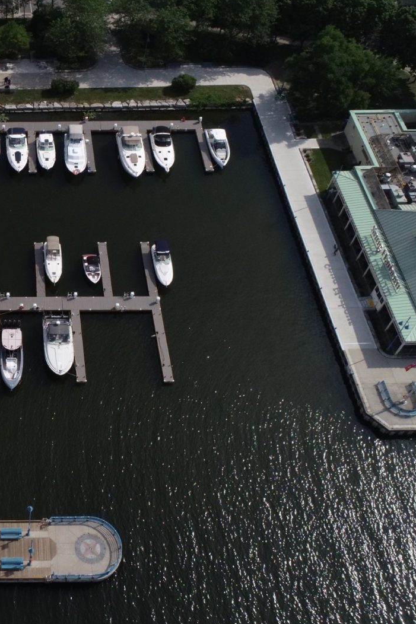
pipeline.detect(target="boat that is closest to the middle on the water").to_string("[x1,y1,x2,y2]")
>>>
[150,240,174,287]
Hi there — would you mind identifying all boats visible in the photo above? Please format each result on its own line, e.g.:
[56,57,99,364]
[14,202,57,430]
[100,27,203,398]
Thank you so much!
[63,123,87,176]
[150,123,176,171]
[7,126,29,172]
[205,130,230,168]
[150,240,174,287]
[36,130,57,170]
[119,125,148,176]
[42,311,73,372]
[43,236,63,284]
[81,254,100,284]
[1,323,22,386]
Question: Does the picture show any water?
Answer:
Yes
